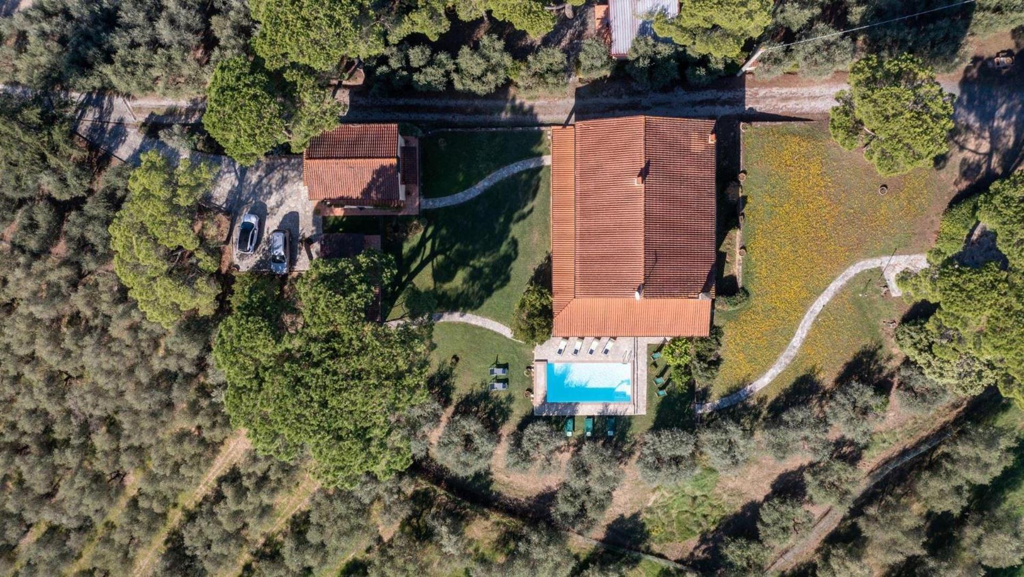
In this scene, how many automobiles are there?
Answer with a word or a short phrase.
2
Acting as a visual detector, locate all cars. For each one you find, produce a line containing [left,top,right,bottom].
[268,230,290,273]
[237,214,260,253]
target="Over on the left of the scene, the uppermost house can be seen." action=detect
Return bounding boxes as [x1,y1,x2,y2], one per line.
[299,123,419,212]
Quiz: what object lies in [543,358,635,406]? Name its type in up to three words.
swimming pool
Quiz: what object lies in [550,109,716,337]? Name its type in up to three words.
house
